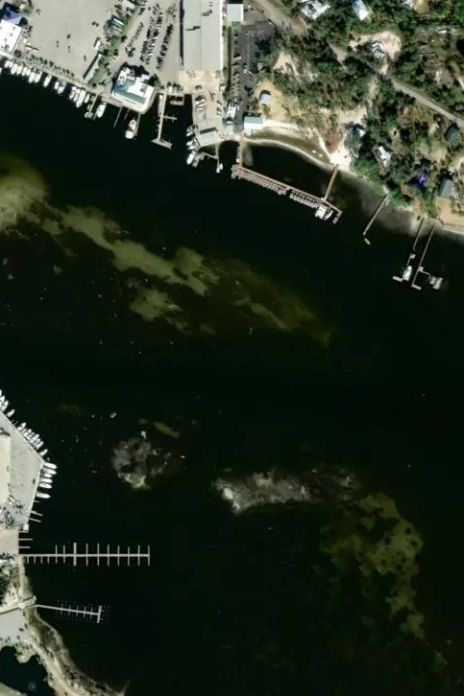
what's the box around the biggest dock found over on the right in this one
[232,136,342,223]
